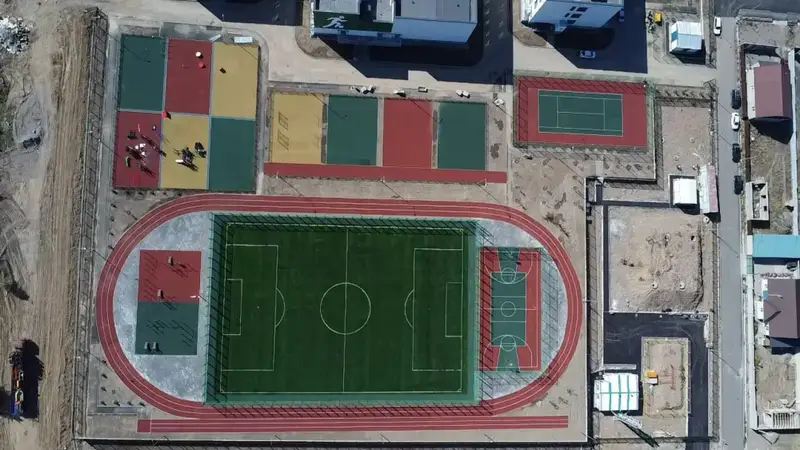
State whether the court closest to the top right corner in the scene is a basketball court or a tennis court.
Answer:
tennis court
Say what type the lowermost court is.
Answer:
basketball court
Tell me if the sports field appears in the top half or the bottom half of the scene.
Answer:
bottom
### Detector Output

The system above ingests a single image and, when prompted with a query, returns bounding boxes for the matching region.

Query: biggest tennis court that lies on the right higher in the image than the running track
[516,77,648,148]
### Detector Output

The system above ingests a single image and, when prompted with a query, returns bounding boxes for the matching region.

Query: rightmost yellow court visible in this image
[271,94,323,164]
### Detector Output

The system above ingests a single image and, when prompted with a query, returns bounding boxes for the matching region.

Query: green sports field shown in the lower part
[206,212,478,402]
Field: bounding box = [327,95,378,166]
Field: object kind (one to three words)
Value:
sports court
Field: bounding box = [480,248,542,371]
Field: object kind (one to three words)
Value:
basketball court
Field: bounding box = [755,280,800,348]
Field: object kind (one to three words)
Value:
house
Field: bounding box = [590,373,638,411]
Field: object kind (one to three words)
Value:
building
